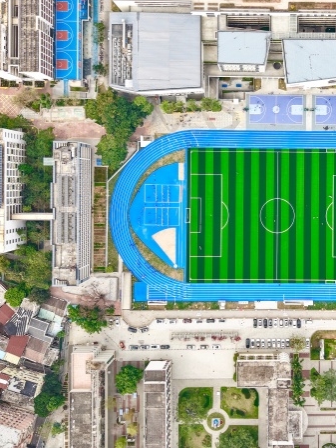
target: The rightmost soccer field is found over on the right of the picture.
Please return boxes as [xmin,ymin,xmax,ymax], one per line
[187,148,336,283]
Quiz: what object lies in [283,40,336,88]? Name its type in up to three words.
building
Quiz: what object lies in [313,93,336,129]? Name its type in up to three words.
basketball court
